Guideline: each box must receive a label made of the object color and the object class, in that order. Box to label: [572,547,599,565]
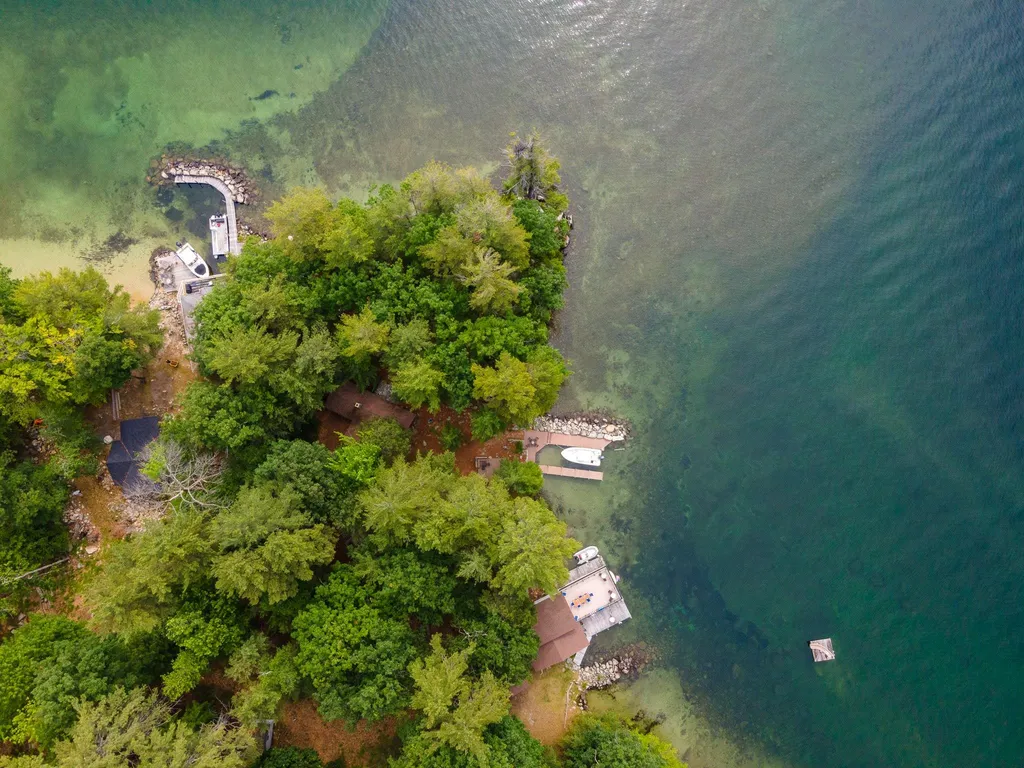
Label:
white boat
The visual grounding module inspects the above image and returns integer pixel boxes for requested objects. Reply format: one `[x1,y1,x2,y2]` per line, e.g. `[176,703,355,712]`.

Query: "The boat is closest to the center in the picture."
[561,447,607,467]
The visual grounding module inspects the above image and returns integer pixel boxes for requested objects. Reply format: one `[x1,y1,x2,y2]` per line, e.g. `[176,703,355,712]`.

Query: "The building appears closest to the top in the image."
[326,381,415,448]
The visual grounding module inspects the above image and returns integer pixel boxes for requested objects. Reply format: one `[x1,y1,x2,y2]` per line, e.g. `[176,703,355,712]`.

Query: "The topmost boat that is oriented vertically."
[206,211,228,256]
